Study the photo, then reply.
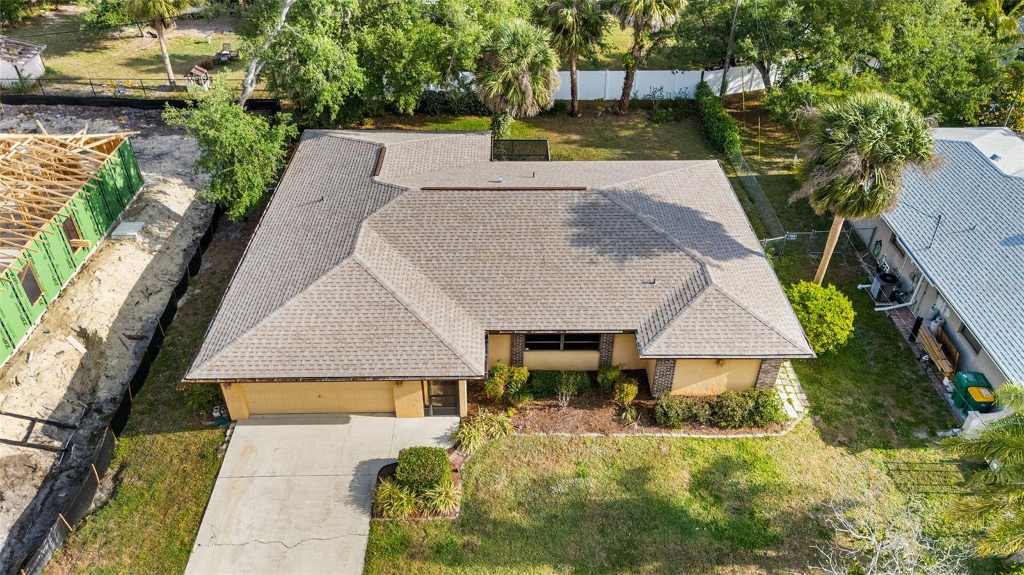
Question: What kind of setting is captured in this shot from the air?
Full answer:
The picture captures a residential area.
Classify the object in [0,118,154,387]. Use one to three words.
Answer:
house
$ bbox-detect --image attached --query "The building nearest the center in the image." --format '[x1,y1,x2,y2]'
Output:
[182,125,817,419]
